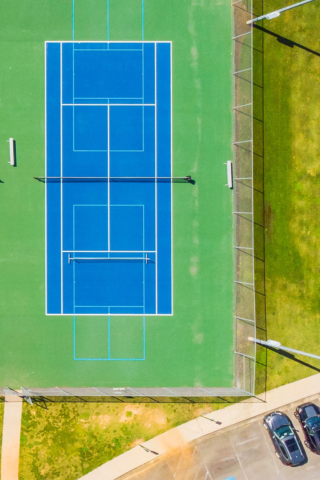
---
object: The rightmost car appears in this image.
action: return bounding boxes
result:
[296,400,320,456]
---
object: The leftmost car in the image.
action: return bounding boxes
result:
[261,412,304,468]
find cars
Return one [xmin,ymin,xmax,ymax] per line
[296,400,320,456]
[261,412,304,468]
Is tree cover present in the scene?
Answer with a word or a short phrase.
No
